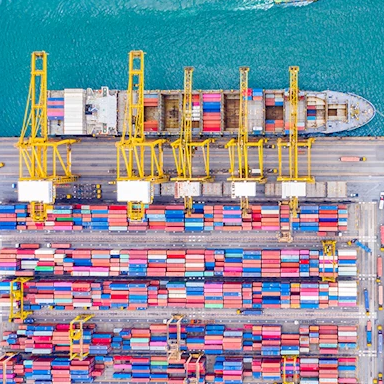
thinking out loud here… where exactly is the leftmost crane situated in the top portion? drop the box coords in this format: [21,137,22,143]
[16,50,87,228]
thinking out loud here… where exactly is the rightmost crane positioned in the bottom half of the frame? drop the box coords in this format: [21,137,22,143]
[317,241,336,286]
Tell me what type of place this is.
port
